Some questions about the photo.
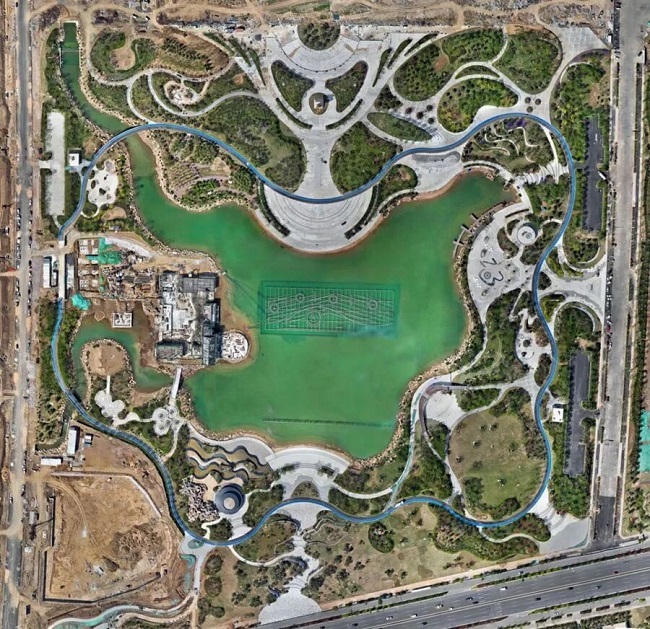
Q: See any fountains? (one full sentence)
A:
Yes, this view includes a fountain.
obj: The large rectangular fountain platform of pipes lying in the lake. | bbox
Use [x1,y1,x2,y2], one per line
[261,281,400,337]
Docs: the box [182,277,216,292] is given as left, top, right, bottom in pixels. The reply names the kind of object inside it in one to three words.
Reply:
building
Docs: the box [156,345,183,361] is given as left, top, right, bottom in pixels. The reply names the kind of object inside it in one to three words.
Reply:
building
